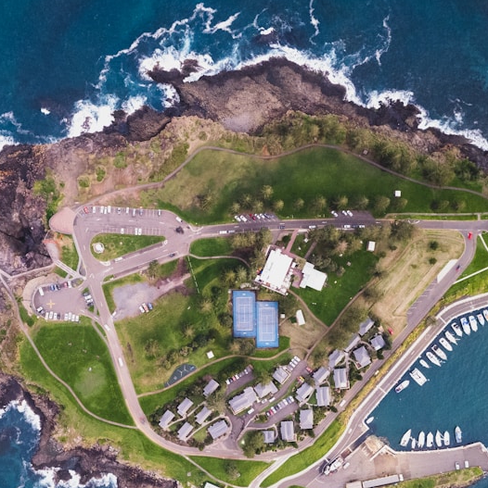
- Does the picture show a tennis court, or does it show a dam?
tennis court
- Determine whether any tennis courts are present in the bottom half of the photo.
Yes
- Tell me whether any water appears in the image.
Yes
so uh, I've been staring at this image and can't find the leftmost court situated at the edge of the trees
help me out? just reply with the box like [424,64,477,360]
[233,290,256,338]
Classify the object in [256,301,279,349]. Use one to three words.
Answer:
tennis court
